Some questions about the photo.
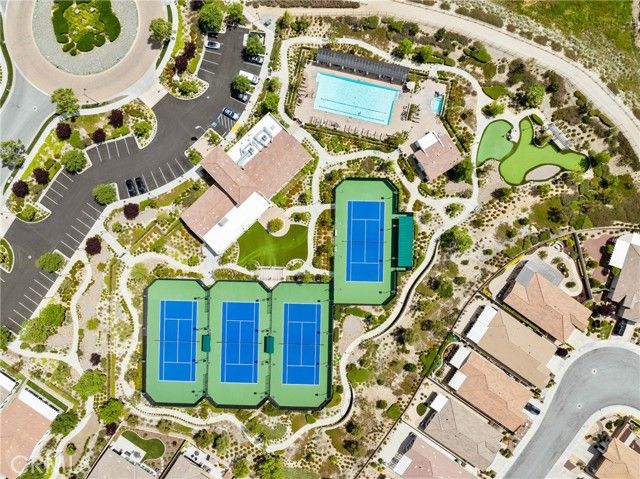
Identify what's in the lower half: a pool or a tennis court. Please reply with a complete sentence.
The one visible in the lower half is a tennis court.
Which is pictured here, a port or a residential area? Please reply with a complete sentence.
What you see here is a residential area.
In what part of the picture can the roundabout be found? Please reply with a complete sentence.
The roundabout sits in the top left section of the image.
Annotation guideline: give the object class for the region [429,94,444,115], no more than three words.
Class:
swimming pool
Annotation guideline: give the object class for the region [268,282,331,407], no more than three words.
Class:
tennis court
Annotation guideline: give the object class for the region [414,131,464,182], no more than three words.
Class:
building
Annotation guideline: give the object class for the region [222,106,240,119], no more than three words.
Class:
vehicle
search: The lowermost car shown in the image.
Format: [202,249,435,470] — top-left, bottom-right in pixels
[526,402,543,415]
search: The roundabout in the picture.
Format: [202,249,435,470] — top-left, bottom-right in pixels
[2,0,168,103]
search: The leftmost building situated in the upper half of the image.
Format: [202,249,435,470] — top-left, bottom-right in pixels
[181,111,313,254]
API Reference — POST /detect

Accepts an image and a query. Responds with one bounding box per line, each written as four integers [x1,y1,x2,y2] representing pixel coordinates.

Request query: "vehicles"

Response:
[204,40,221,50]
[247,54,264,65]
[238,68,259,83]
[526,402,543,415]
[135,176,147,194]
[234,91,251,103]
[222,106,240,119]
[614,320,626,336]
[126,179,136,196]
